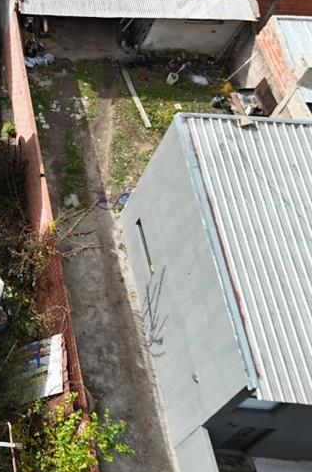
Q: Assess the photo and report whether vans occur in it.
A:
No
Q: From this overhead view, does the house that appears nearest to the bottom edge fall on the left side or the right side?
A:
right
